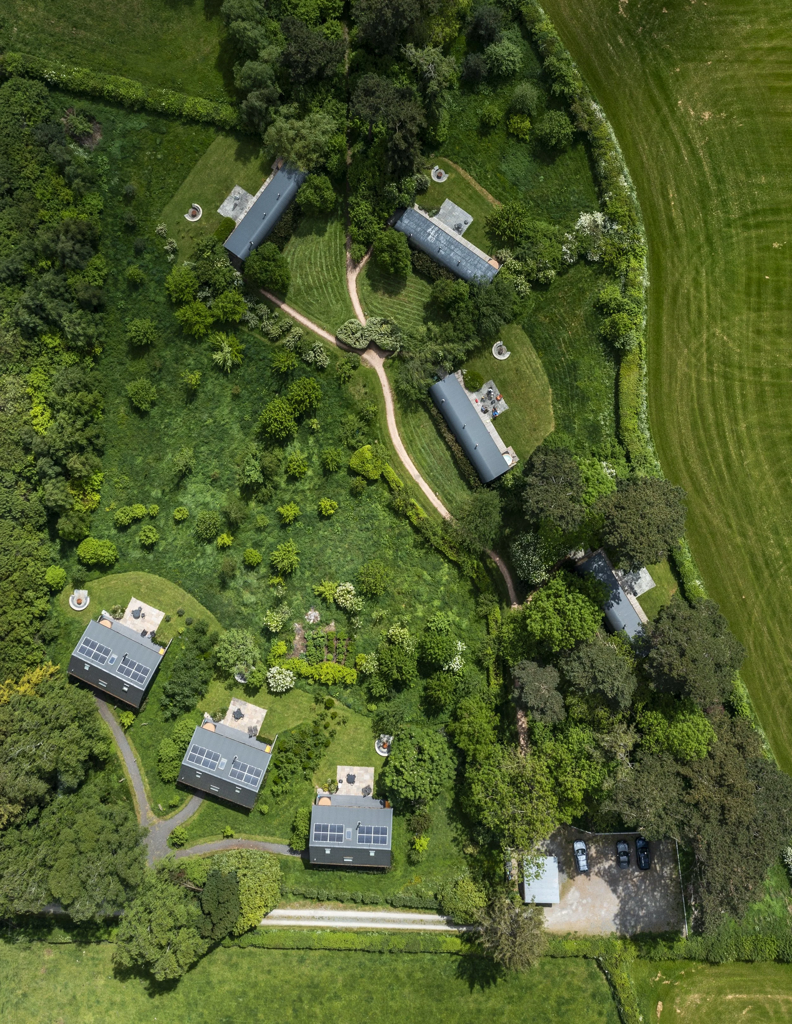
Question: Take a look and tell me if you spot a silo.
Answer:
No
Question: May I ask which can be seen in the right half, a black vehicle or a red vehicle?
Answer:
black vehicle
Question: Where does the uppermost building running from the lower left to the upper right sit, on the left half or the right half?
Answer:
left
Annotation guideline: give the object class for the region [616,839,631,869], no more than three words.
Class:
car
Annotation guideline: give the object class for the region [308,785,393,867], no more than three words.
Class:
house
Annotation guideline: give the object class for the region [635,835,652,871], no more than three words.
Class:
car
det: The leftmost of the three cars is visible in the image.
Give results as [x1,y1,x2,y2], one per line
[573,838,589,874]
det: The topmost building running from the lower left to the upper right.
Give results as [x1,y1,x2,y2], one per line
[217,154,309,269]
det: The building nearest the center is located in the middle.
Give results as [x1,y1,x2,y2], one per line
[429,369,521,484]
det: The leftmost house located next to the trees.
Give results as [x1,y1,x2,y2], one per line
[65,614,175,708]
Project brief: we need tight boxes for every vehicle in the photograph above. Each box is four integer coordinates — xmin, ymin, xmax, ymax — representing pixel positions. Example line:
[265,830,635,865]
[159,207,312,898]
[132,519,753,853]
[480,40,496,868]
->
[616,839,631,869]
[635,835,652,871]
[573,838,589,874]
